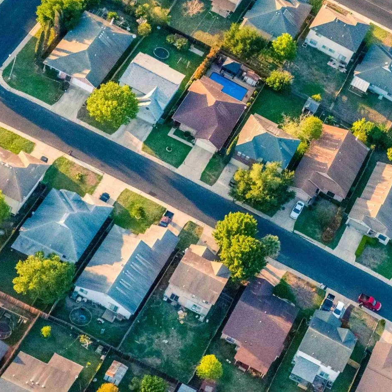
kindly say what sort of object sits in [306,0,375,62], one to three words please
house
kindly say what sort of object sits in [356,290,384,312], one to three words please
truck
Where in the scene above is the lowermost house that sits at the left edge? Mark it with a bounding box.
[1,351,83,392]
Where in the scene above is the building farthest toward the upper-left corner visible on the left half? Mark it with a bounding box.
[42,10,135,107]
